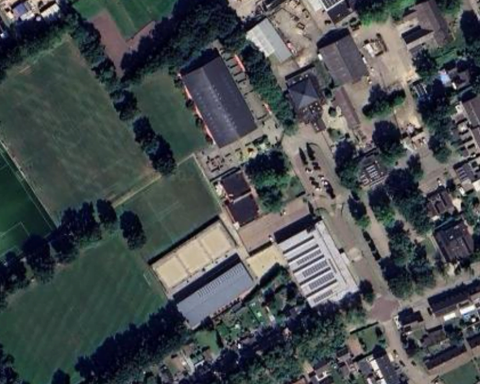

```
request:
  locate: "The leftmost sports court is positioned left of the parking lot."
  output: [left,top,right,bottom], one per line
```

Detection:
[157,258,186,286]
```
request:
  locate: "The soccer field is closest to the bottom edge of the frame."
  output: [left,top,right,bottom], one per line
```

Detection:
[0,235,173,384]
